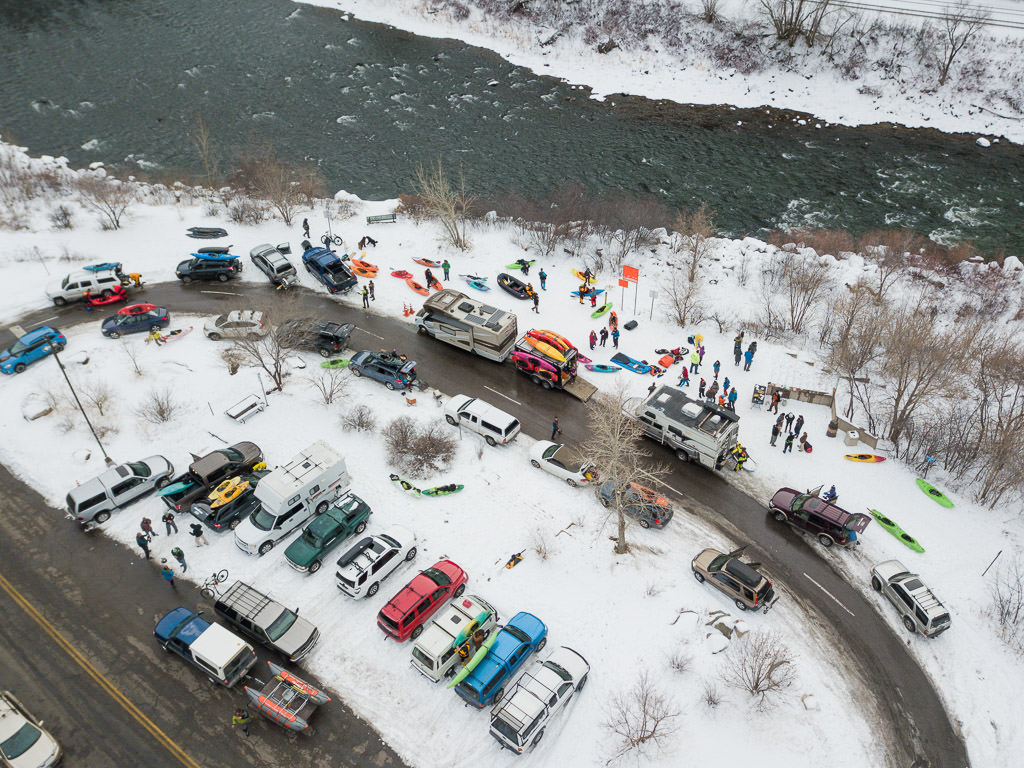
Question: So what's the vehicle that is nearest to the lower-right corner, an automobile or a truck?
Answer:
automobile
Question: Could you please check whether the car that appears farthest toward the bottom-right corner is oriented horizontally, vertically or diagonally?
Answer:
diagonally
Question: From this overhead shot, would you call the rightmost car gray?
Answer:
Yes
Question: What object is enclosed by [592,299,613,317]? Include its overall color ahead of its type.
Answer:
green boat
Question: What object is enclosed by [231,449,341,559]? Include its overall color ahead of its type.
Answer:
white truck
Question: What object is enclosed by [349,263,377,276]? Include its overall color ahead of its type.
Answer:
orange boat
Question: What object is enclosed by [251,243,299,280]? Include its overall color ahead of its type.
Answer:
gray car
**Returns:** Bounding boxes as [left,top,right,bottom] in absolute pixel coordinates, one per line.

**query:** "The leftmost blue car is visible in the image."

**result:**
[0,327,70,373]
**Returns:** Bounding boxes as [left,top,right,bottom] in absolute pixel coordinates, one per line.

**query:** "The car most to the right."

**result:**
[868,559,962,648]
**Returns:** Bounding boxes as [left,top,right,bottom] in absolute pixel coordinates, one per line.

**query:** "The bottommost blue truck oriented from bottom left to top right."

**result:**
[452,612,551,720]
